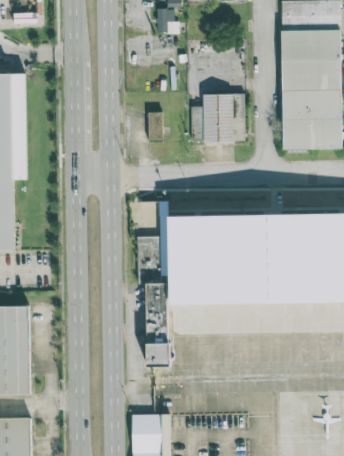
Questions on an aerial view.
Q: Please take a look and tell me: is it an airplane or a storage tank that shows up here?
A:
airplane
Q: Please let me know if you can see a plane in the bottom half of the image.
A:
Yes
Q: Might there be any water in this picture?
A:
No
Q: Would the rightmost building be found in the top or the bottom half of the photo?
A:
top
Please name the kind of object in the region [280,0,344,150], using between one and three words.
building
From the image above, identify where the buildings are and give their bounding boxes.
[148,112,164,141]
[0,306,32,396]
[280,0,344,150]
[159,201,344,304]
[156,9,180,35]
[0,418,32,456]
[144,283,175,367]
[129,202,156,228]
[190,94,246,143]
[131,414,171,456]
[0,74,27,253]
[14,0,42,24]
[138,236,158,282]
